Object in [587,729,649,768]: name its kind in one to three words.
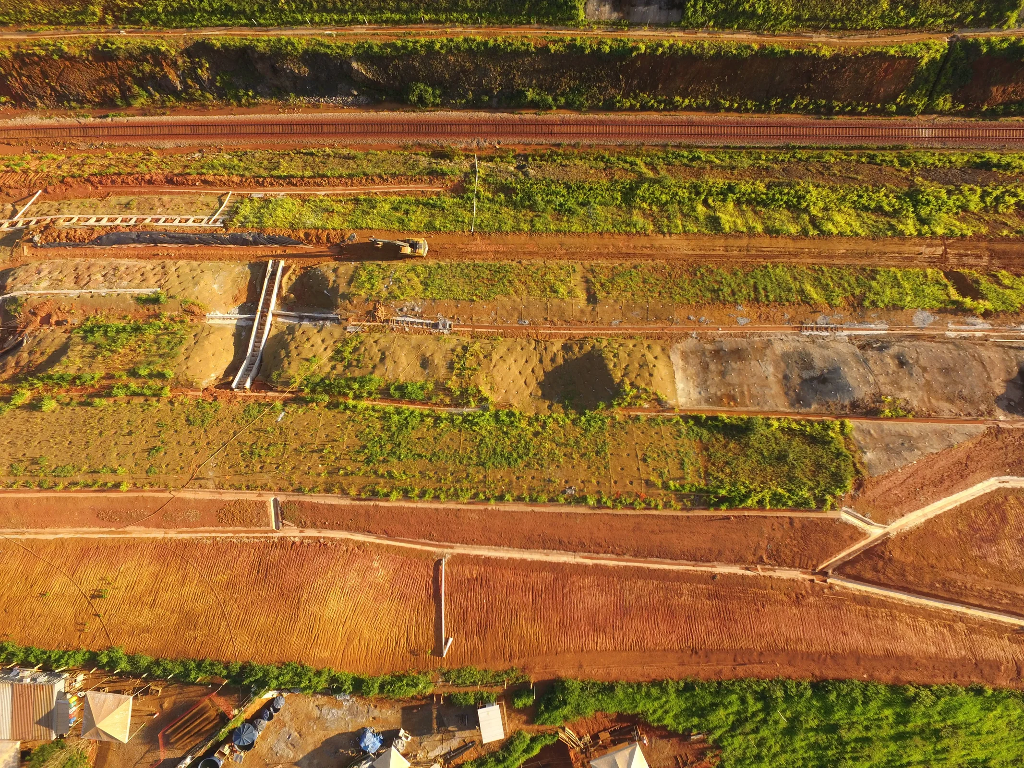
tent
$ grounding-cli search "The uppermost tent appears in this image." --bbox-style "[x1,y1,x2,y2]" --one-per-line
[81,681,147,744]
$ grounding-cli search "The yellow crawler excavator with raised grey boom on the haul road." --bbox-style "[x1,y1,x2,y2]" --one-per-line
[367,235,430,261]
